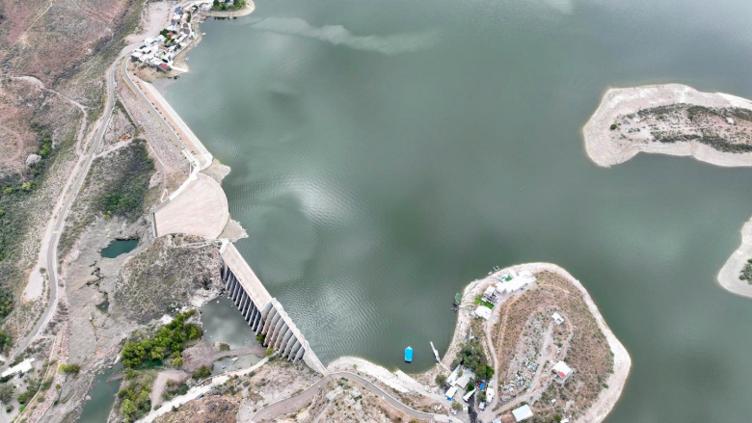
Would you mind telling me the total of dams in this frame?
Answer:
2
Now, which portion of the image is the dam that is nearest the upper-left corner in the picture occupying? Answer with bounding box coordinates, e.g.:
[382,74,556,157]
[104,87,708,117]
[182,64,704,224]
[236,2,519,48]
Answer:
[113,67,215,170]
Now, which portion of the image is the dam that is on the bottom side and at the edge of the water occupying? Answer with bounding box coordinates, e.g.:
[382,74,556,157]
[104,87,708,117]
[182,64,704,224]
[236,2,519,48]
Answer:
[219,239,330,377]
